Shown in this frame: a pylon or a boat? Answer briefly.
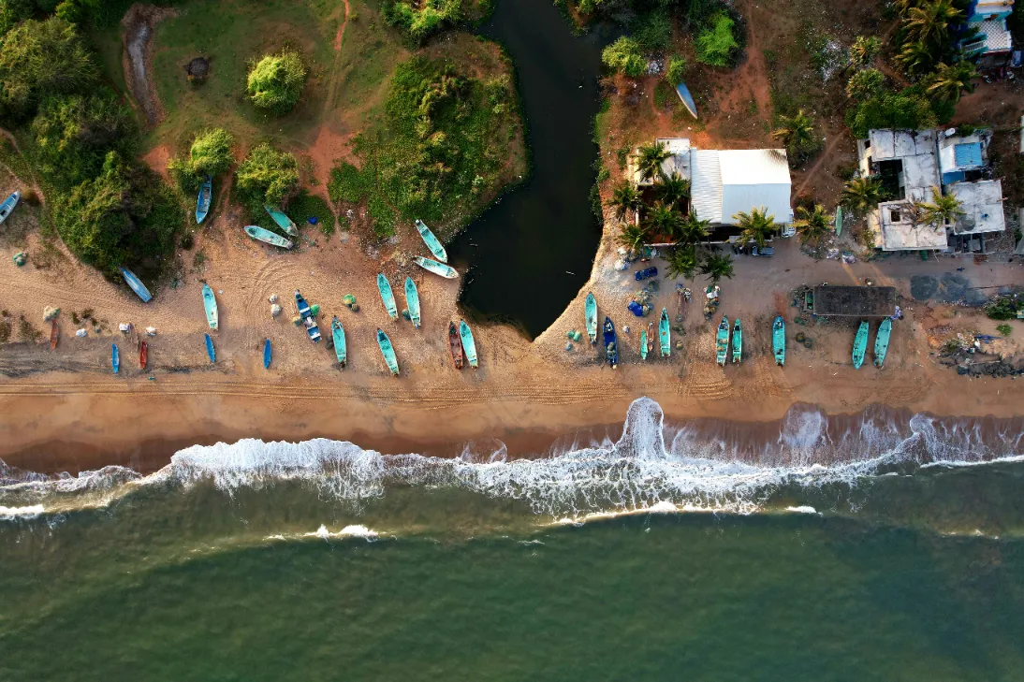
boat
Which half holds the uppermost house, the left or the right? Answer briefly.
right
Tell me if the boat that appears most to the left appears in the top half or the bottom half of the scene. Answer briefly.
top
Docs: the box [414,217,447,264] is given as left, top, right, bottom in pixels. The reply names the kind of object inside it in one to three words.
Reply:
boat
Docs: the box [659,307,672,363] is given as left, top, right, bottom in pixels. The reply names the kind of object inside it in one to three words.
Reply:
boat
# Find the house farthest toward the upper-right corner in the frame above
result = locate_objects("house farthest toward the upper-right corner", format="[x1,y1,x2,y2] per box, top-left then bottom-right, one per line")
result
[957,0,1016,72]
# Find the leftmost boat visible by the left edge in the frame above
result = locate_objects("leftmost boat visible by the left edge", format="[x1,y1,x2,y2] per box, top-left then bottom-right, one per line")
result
[0,190,21,230]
